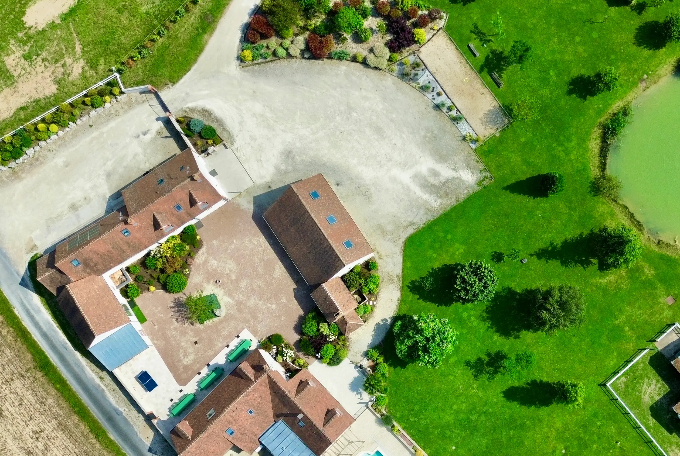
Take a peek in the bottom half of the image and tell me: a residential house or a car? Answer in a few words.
residential house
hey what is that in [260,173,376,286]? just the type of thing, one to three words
barn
